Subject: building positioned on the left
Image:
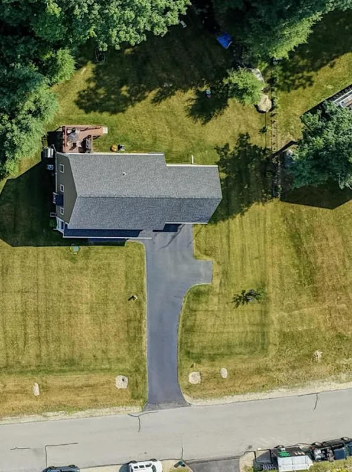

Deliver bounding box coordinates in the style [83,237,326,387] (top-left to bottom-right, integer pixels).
[39,125,224,240]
